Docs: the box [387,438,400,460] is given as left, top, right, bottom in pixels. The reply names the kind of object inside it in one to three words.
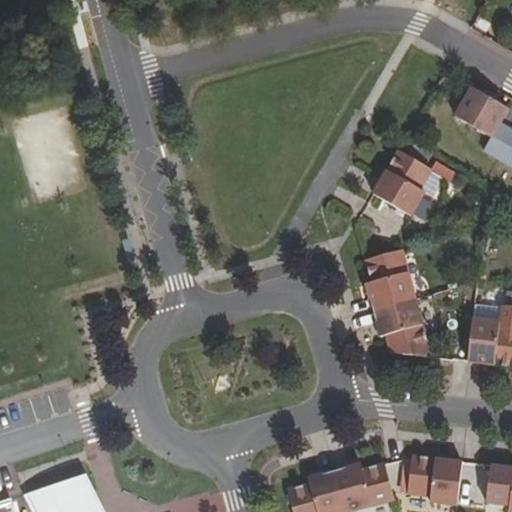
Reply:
vehicle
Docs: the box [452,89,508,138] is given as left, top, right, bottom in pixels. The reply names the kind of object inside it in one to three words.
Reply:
house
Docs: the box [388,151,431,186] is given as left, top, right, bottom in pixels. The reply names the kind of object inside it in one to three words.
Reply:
house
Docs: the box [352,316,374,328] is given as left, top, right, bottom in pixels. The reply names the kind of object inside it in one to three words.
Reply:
vehicle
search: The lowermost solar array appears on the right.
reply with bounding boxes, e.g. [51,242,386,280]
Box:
[470,344,492,363]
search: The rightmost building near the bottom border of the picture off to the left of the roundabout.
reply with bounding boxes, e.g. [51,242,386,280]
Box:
[23,473,103,512]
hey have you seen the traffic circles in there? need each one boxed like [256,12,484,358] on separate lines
[104,276,372,512]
